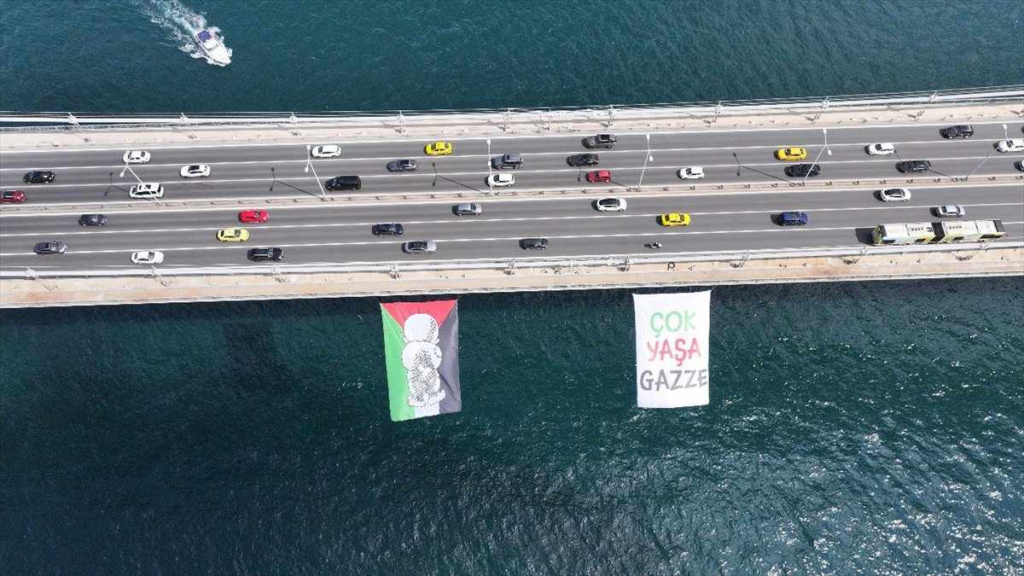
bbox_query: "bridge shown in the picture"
[0,85,1024,309]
